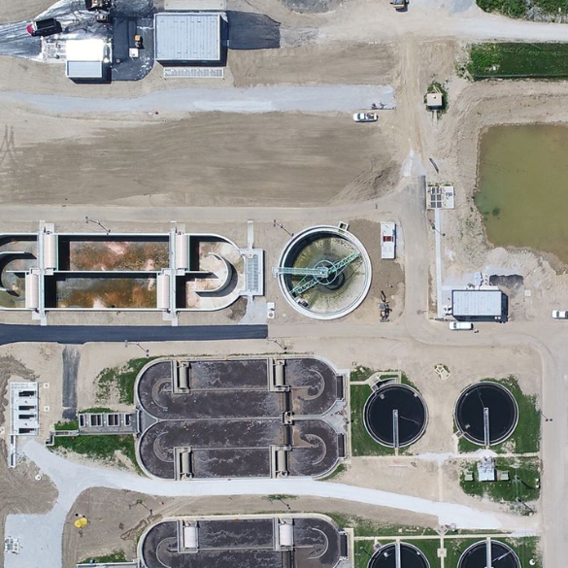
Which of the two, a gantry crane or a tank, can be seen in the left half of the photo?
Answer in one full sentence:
Visible in the left half of the photo is a tank.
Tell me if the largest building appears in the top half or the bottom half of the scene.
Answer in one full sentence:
The top half of the photo is where the largest building is.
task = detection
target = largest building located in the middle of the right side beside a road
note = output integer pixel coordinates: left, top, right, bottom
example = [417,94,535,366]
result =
[452,291,503,316]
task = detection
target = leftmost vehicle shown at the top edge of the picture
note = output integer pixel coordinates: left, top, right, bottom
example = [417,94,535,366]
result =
[27,16,61,34]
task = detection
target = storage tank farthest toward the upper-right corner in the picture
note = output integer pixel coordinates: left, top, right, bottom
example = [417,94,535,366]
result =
[272,221,373,319]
